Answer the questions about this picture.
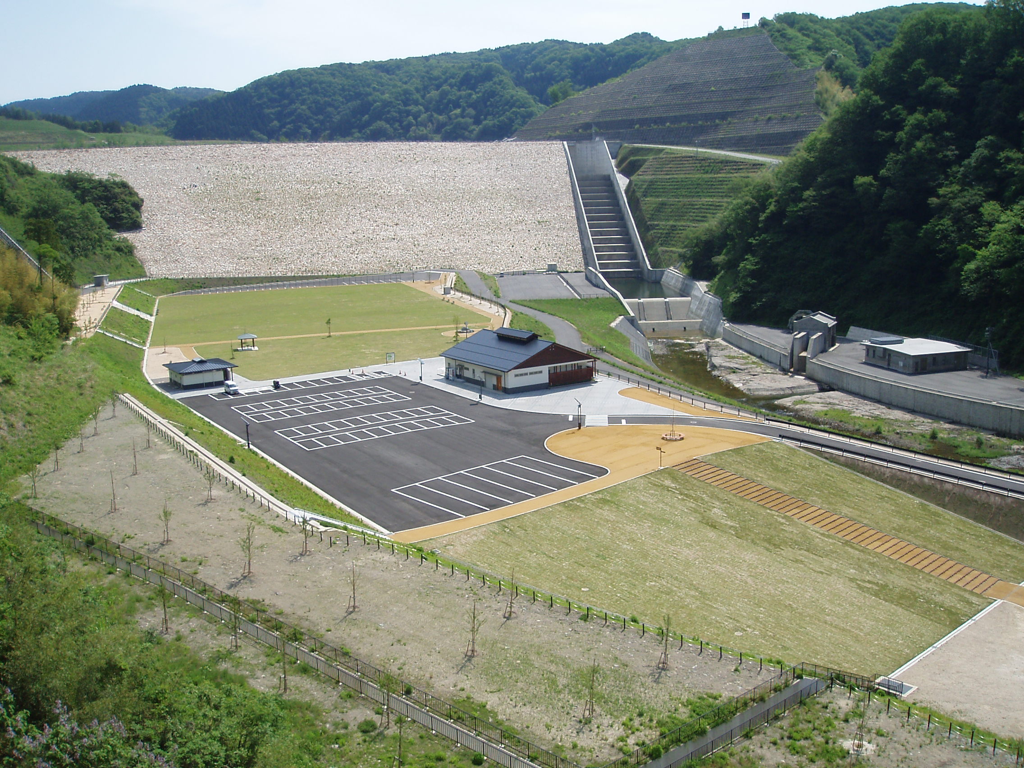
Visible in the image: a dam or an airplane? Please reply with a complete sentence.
Visible in the photo is a dam.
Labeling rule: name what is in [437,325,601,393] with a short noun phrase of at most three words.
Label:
building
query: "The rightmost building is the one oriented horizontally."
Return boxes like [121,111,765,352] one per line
[859,339,978,374]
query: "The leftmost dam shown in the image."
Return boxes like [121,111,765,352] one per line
[0,144,586,291]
